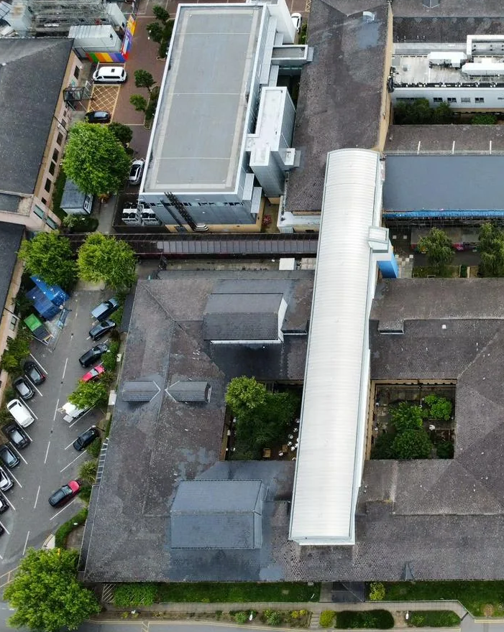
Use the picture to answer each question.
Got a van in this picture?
Yes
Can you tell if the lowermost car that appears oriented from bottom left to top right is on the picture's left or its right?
left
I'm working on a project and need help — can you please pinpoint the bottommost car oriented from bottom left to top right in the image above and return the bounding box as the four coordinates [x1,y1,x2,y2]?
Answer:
[46,478,81,507]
